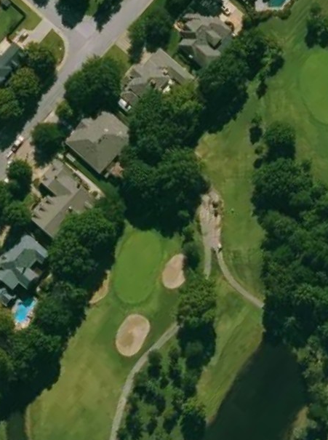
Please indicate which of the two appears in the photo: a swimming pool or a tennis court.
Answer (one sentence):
The one in the frame is a swimming pool.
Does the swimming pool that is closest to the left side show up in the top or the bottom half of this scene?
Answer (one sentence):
Seen from above, the swimming pool that is closest to the left side lies in the bottom half of the view.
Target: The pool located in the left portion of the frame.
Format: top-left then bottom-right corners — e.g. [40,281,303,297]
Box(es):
[14,293,39,325]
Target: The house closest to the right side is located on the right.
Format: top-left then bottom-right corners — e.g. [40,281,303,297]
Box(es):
[176,14,233,68]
